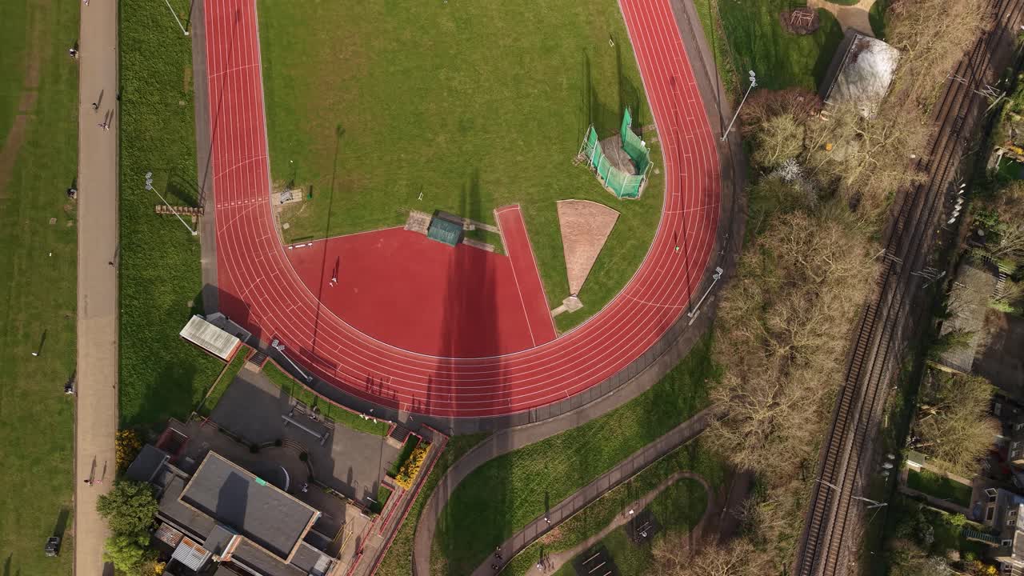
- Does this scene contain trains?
No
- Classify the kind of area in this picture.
sports ground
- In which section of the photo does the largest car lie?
bottom left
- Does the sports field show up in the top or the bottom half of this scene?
top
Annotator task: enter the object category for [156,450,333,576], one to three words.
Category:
building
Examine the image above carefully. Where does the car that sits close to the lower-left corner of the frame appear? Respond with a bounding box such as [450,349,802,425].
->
[41,535,61,560]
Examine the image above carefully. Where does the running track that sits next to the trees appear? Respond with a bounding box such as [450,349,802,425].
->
[205,0,721,417]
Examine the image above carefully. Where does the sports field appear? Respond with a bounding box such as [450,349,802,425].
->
[256,0,665,336]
